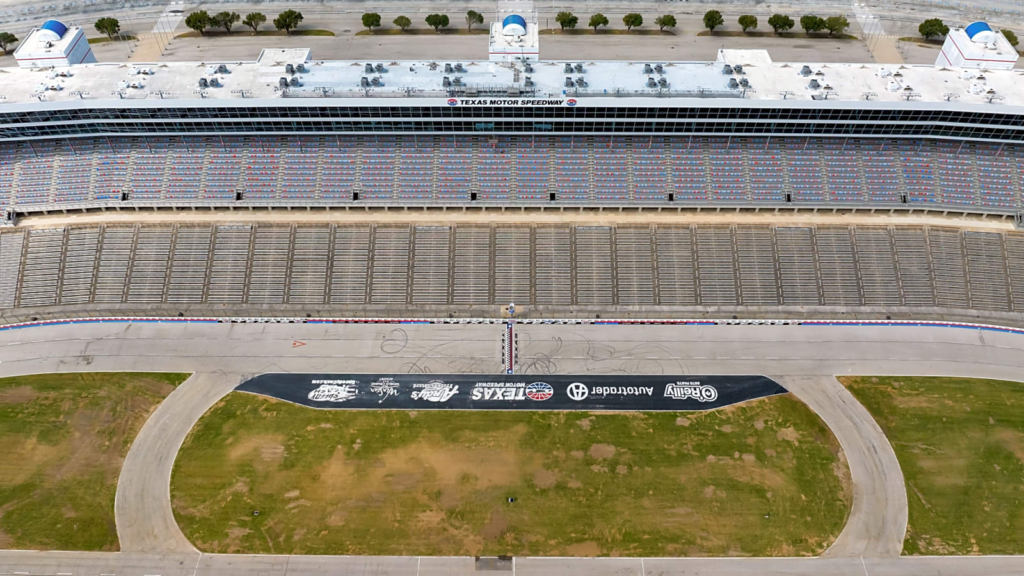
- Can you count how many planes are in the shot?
none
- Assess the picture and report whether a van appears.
No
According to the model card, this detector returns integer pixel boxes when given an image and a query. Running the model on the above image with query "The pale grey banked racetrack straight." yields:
[0,322,1024,381]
